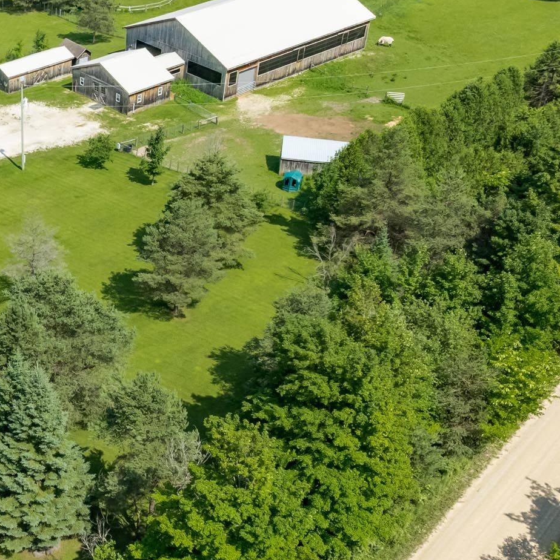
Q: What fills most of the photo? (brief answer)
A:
trees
